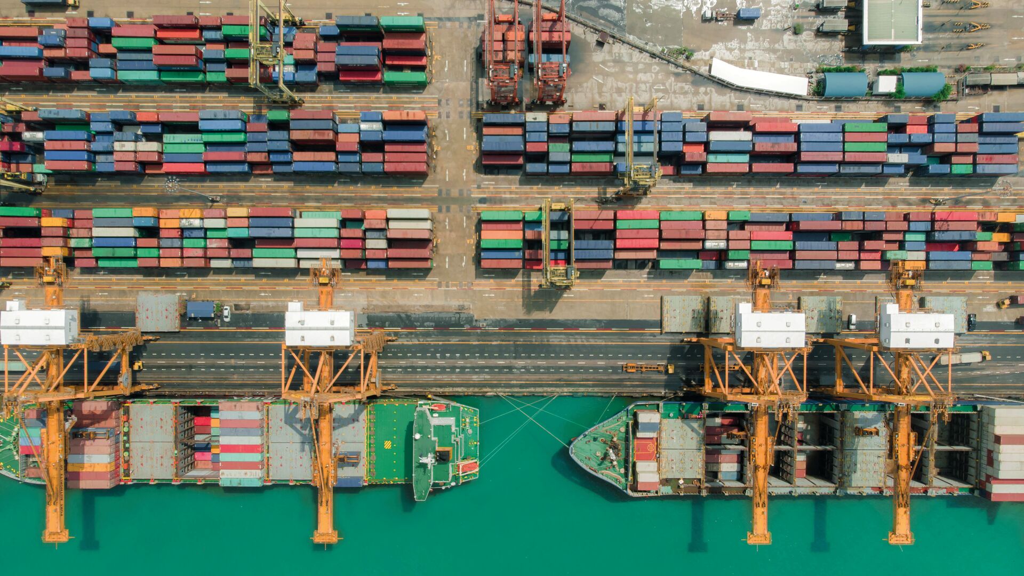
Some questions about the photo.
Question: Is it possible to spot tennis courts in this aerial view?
No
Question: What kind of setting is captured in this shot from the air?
port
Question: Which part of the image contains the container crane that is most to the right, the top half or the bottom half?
bottom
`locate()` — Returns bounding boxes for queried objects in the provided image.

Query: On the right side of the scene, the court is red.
[633,436,657,460]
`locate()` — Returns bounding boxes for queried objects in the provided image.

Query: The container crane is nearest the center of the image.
[536,197,579,288]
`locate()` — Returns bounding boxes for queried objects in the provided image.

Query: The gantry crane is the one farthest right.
[805,258,955,551]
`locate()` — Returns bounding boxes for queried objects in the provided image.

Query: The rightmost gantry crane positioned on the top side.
[611,93,661,192]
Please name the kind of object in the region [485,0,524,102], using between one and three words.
container crane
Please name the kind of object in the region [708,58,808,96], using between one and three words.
shed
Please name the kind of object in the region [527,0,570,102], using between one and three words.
container crane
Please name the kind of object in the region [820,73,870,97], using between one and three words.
shed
